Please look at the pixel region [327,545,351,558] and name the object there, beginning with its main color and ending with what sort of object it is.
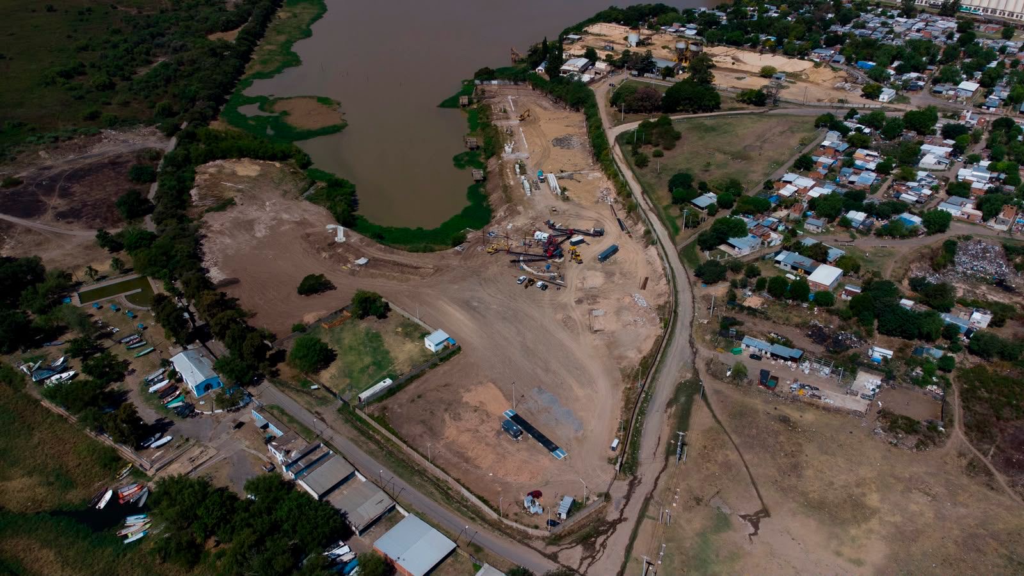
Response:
white boat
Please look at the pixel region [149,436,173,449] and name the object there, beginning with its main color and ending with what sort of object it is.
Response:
white boat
